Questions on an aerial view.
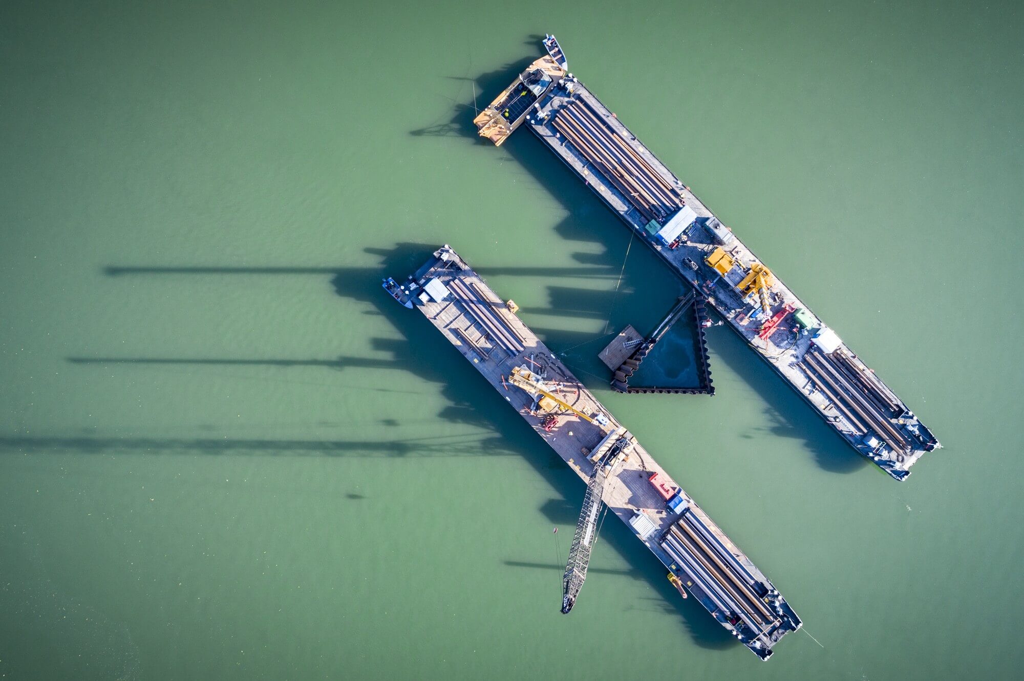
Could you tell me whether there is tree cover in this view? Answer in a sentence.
No, tree cover can't be seen anywhere here.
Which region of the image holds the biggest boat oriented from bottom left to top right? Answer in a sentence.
The biggest boat oriented from bottom left to top right is in the top part of the image.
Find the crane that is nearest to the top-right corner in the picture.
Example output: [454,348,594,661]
[706,241,782,320]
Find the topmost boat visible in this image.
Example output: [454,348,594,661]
[543,33,568,72]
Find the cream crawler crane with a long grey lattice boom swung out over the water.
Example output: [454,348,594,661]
[556,429,636,621]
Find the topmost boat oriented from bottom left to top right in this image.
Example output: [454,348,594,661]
[474,54,565,147]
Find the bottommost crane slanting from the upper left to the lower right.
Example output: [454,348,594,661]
[498,352,596,426]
